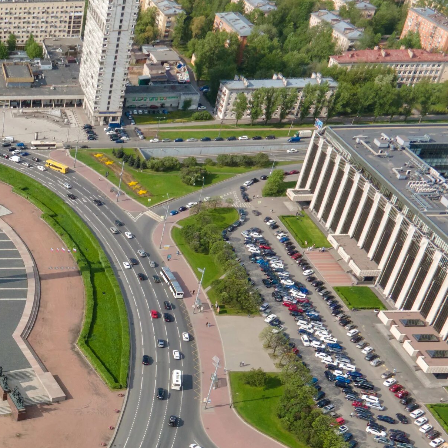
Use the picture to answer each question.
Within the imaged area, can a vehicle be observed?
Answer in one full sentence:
Yes, there's a vehicle here.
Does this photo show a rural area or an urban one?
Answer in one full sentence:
The land in this view is best described as urban.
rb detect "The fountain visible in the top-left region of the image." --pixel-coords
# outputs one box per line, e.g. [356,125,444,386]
[18,106,68,124]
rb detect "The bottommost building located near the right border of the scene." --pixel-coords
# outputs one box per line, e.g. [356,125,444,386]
[296,124,448,353]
